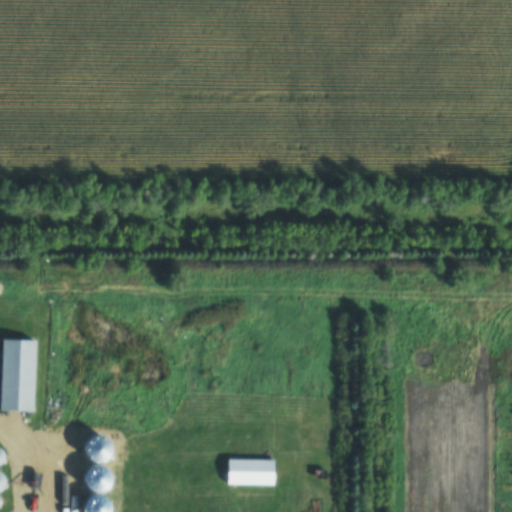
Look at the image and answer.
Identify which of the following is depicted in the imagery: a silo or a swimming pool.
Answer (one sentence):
There is a silo in the scene.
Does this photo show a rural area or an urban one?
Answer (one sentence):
This place is rural.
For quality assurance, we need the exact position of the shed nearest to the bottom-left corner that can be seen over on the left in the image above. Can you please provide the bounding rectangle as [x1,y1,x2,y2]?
[0,340,36,410]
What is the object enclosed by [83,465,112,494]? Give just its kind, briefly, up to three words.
silo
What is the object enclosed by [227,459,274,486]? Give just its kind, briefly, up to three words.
barn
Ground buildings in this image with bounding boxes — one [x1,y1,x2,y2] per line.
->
[0,340,36,410]
[227,459,274,486]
